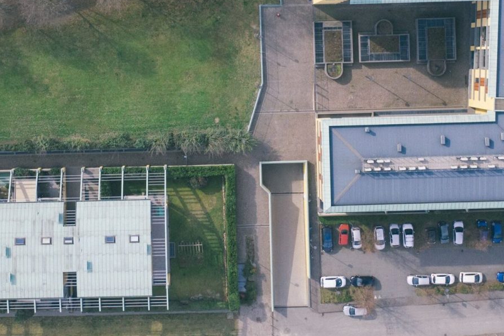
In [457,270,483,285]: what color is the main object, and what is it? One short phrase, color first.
white car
